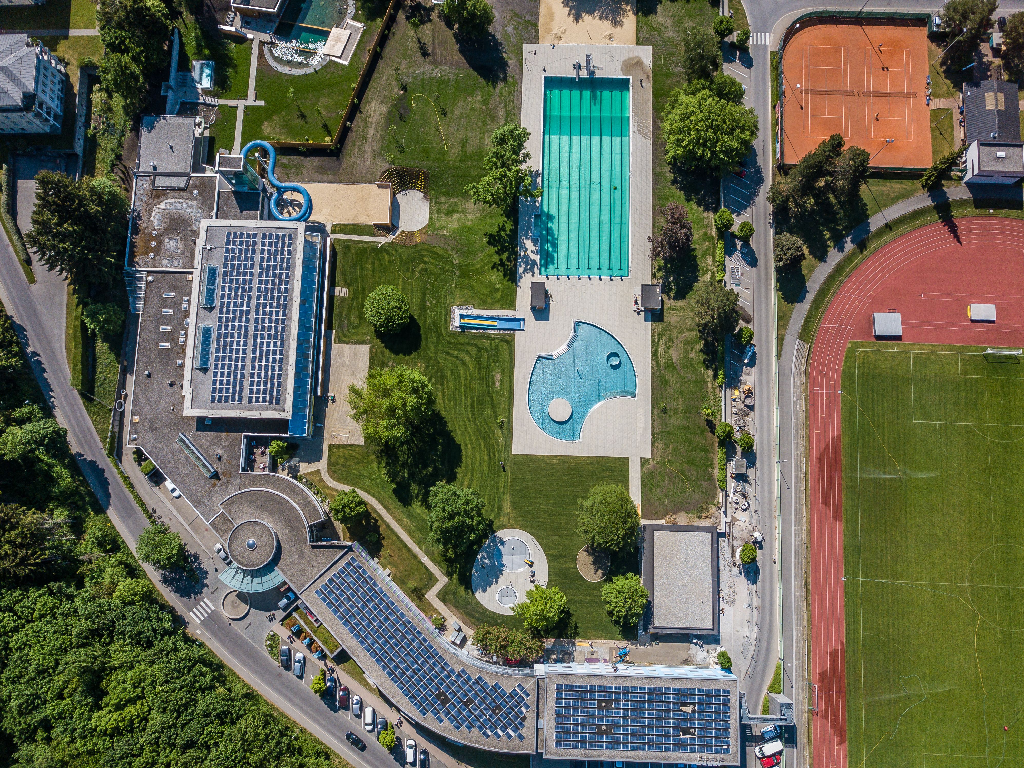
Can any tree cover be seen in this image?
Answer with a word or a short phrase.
Yes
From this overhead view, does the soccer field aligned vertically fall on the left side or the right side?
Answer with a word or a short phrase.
right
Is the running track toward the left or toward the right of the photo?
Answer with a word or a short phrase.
right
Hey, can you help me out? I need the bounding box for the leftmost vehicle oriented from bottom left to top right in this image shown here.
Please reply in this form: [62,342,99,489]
[276,590,297,609]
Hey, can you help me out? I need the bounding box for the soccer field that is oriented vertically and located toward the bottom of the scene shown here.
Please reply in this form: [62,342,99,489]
[841,341,1024,768]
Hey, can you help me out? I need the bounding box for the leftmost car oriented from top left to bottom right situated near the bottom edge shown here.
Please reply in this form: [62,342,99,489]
[344,729,368,753]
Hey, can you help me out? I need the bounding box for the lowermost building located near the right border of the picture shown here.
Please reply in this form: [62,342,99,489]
[956,140,1024,188]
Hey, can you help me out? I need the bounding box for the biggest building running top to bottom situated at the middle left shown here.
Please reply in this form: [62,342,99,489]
[124,174,353,595]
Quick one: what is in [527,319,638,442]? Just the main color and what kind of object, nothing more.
blue swimming pool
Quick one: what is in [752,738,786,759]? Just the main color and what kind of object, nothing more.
white vehicle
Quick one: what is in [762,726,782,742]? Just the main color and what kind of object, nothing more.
blue car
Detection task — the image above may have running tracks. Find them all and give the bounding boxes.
[809,216,1024,768]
